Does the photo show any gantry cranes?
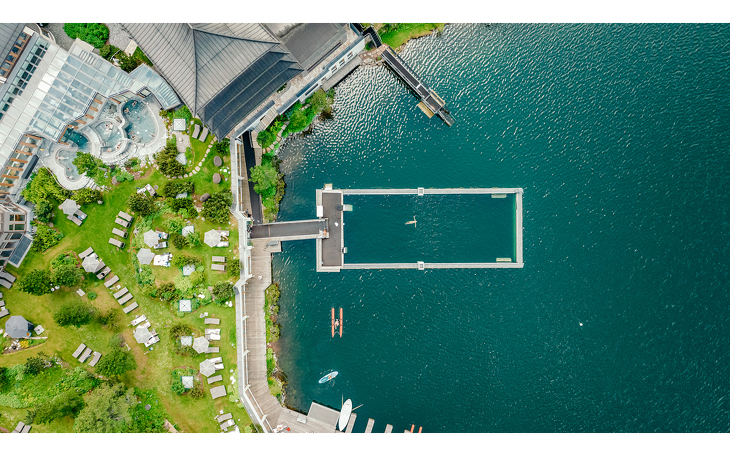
No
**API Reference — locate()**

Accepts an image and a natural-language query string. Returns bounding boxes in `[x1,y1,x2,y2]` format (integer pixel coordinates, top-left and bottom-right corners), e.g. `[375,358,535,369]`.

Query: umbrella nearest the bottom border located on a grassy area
[200,359,216,375]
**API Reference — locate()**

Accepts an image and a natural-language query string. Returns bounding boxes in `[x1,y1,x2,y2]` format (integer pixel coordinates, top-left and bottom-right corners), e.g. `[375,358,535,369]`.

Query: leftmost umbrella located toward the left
[6,315,33,338]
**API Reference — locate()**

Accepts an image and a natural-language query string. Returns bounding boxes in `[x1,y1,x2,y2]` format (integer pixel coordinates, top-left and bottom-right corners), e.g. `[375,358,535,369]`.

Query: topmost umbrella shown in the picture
[61,199,82,215]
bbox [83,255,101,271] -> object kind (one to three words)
umbrella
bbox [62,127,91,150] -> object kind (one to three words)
swimming pool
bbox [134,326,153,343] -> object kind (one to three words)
umbrella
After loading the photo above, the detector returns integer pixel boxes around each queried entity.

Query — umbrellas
[138,249,156,265]
[134,326,153,343]
[83,255,101,271]
[61,199,82,215]
[144,230,162,246]
[200,359,216,375]
[193,336,210,353]
[6,315,33,338]
[205,229,221,248]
